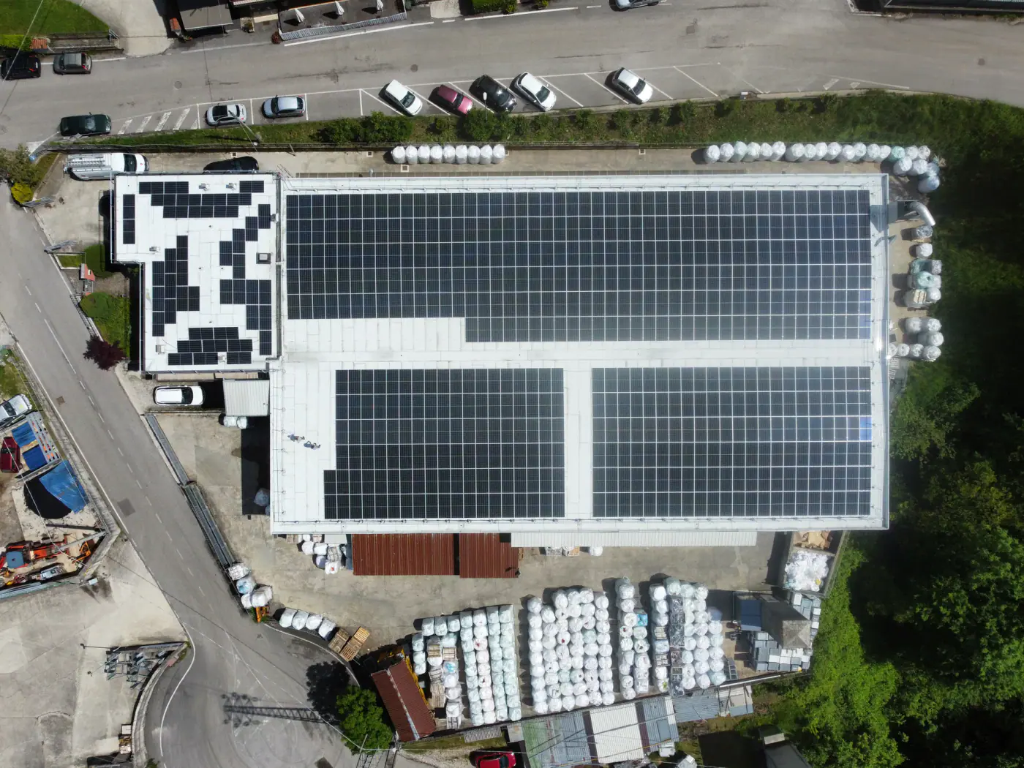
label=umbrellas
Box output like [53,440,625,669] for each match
[374,0,383,12]
[294,9,305,24]
[335,1,345,17]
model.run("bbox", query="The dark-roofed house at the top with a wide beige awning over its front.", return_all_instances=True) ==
[158,0,251,40]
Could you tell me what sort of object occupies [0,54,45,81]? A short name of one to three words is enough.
car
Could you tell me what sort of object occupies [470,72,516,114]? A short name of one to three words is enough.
car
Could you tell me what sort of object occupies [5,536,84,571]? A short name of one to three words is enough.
work vehicle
